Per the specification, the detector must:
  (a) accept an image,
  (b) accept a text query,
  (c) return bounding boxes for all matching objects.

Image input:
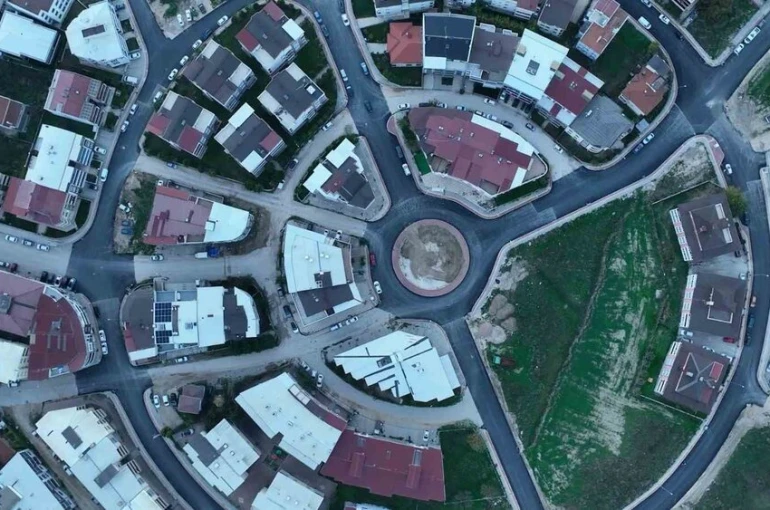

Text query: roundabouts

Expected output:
[392,219,469,296]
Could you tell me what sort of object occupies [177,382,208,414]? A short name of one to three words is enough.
shed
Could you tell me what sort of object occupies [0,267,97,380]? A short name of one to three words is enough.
building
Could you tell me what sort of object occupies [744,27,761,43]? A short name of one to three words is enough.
vehicle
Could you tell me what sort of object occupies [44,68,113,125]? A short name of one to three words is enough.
house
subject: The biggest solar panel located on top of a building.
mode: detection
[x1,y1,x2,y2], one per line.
[156,303,172,322]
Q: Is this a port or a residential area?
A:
residential area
